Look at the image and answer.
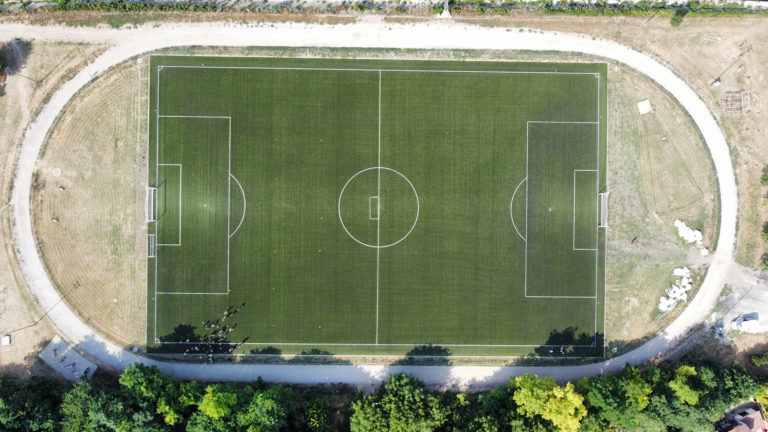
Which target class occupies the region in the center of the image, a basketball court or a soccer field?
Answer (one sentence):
The one visible in the center of the image is a soccer field.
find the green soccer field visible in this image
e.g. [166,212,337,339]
[146,55,608,358]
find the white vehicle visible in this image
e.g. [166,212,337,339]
[729,320,760,333]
